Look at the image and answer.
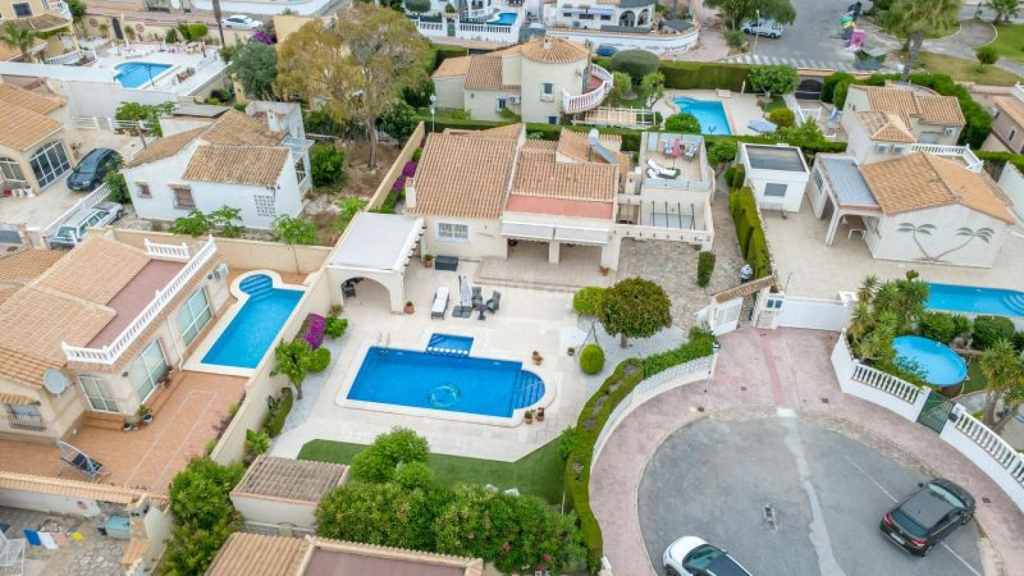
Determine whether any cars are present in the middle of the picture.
No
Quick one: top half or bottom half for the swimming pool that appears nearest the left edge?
top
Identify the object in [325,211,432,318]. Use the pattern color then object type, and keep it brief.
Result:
white gazebo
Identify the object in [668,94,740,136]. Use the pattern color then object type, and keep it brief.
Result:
blue swimming pool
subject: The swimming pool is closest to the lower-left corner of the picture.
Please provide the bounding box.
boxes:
[182,270,311,377]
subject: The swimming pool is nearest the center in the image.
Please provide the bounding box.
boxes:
[336,325,557,427]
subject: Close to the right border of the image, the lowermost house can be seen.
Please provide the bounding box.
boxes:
[805,149,1018,268]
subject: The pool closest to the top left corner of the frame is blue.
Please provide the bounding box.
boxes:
[108,61,179,89]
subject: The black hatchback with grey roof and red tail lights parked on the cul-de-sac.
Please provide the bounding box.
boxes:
[883,477,977,557]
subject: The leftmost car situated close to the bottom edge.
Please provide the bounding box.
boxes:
[662,536,761,576]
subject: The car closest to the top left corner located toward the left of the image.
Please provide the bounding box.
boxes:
[71,145,125,186]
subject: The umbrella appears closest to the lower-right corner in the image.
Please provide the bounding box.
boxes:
[556,323,600,356]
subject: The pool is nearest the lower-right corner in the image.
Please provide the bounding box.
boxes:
[878,334,976,406]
